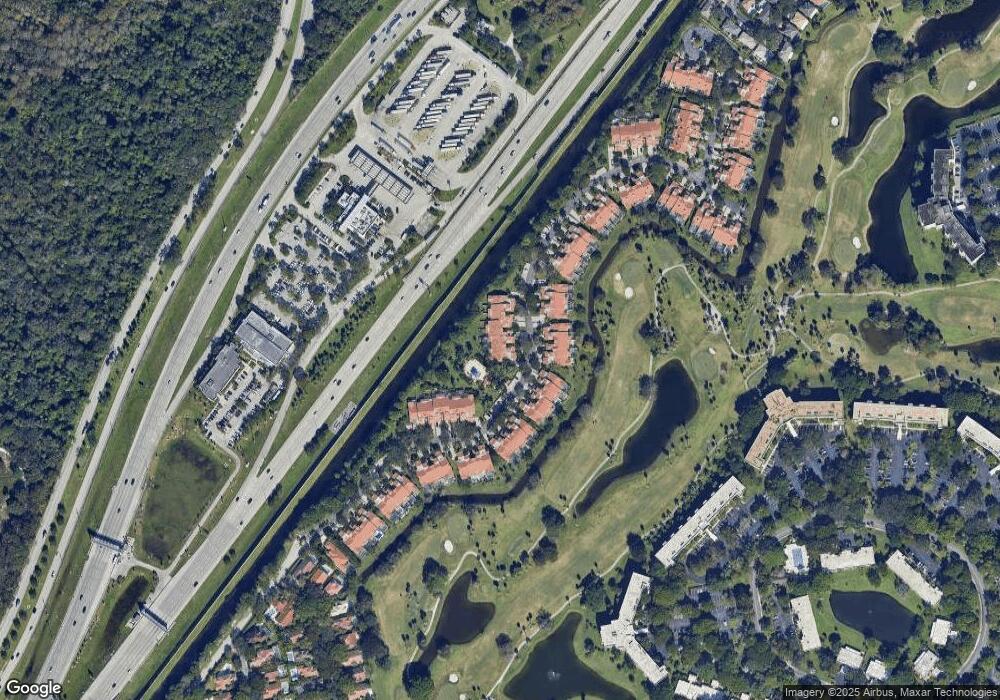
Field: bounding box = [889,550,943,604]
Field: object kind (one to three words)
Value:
building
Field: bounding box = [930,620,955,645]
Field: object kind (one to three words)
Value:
building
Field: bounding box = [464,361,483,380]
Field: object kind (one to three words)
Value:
swimming pool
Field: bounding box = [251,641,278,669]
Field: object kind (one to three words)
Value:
house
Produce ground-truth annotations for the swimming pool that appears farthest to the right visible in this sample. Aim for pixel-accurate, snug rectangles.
[785,545,809,572]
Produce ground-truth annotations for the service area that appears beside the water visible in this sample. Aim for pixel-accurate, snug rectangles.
[203,0,534,446]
